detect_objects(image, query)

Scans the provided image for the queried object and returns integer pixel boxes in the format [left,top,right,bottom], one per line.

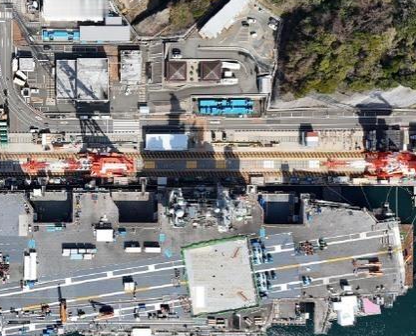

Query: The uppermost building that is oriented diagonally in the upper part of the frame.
[197,0,249,41]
